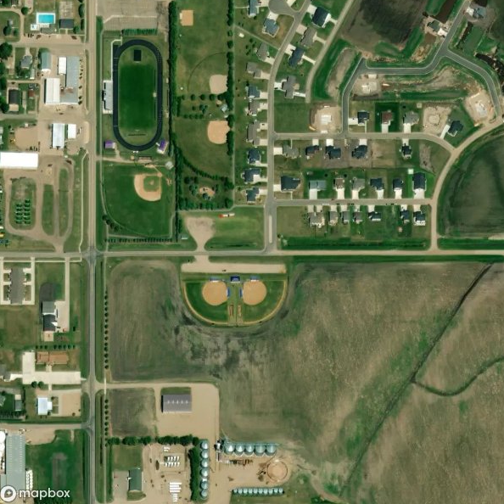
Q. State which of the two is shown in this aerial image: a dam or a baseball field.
baseball field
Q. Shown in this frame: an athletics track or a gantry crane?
athletics track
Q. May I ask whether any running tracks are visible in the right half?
No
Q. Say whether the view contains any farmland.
Yes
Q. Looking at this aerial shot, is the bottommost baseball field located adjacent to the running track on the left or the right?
left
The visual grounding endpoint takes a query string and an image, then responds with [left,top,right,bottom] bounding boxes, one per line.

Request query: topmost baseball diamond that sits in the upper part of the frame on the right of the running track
[187,52,227,95]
